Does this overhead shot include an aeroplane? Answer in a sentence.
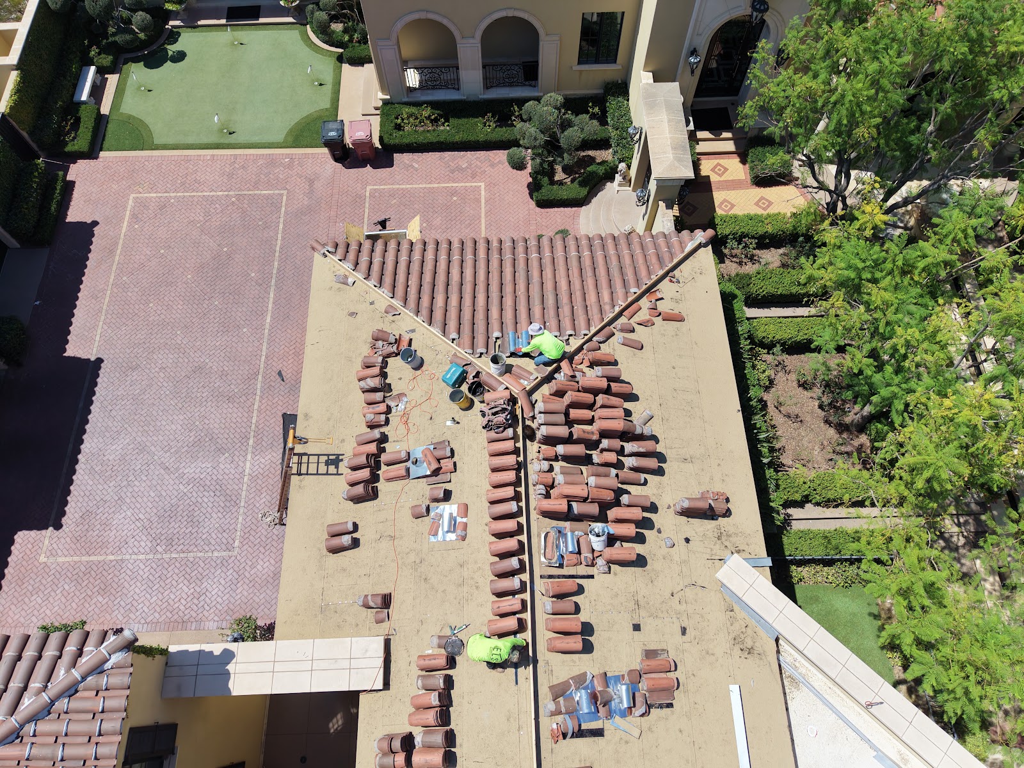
No, the photo shows no aeroplane.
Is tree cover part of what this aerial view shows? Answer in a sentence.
Yes, there is tree cover in the image.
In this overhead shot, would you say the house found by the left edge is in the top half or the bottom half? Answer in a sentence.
You can find the house found by the left edge in the bottom half.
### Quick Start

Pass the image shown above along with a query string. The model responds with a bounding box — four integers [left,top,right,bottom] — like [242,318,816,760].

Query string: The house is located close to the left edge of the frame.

[0,618,258,768]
